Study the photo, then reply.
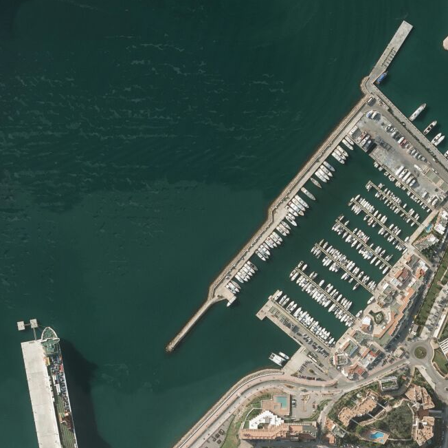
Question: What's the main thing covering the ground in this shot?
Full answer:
For the most part, this view shows water.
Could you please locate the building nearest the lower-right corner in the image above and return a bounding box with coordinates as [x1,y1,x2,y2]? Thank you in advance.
[413,417,435,446]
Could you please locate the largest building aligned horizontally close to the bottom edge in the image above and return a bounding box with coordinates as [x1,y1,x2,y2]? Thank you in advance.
[241,422,317,440]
